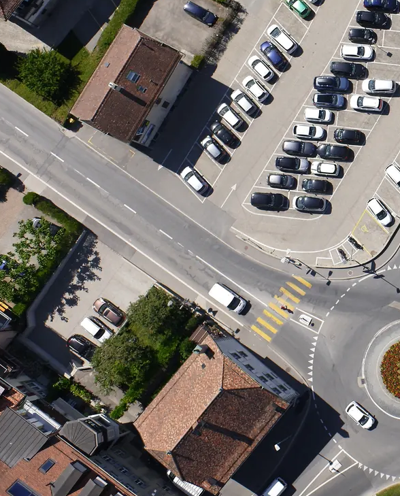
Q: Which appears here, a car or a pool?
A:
car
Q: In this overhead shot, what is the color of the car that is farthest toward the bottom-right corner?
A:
white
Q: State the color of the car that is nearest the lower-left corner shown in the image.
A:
black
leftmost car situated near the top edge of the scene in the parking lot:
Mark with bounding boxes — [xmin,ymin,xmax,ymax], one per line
[181,0,219,28]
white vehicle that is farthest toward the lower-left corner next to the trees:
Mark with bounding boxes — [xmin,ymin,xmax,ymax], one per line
[79,312,115,342]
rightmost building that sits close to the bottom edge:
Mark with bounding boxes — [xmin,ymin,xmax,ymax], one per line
[134,334,297,496]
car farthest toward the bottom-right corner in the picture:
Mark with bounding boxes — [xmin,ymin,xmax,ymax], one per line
[343,398,377,432]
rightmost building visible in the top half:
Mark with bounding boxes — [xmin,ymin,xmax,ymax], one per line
[70,23,190,144]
